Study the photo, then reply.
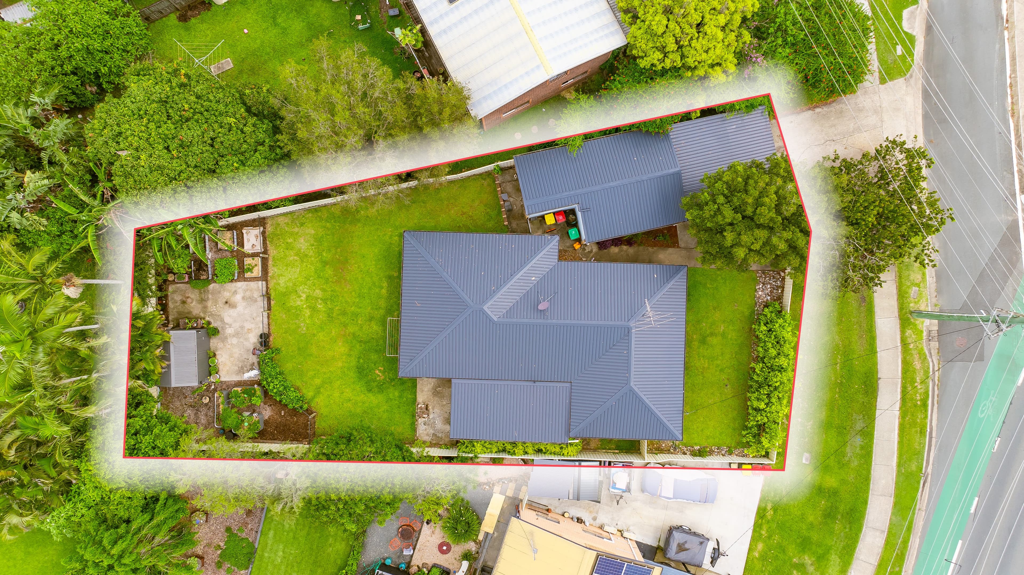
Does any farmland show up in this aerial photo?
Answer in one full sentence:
No, there is no farmland in the image.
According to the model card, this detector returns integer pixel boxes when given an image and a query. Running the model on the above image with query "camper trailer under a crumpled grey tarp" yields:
[665,530,734,575]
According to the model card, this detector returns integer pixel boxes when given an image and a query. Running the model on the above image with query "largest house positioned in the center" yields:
[396,228,695,443]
